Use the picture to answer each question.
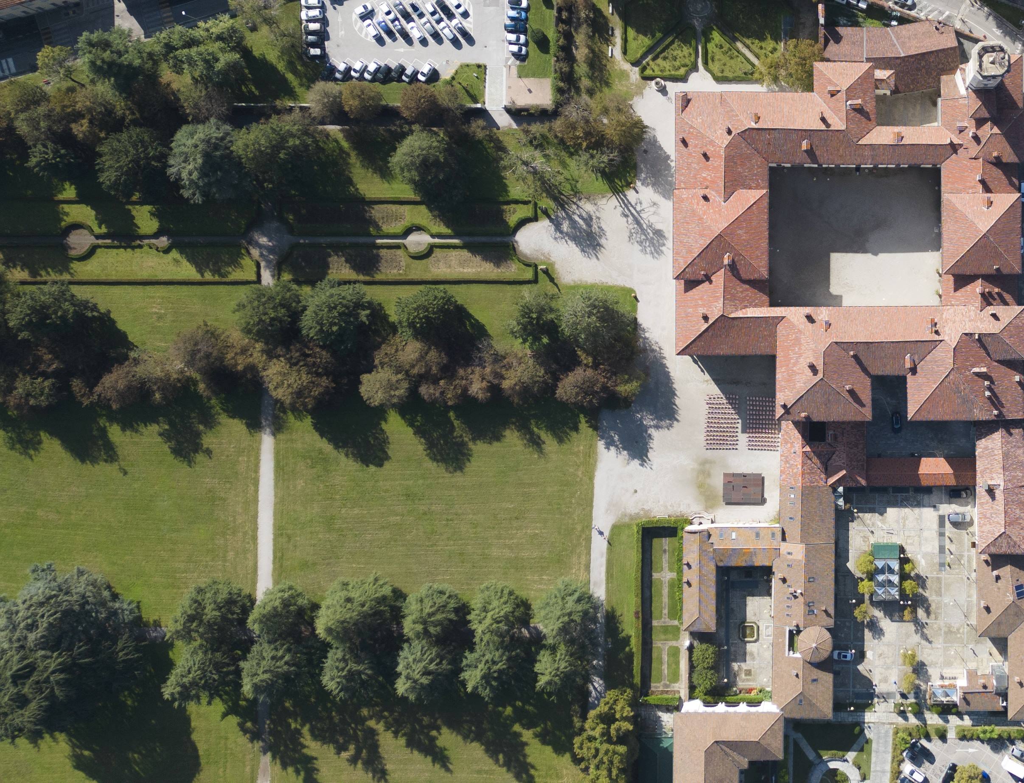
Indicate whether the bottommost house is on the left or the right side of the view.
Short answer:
right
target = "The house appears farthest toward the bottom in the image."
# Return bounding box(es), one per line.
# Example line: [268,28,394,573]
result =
[673,700,784,783]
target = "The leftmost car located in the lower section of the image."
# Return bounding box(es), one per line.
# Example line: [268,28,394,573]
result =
[832,650,856,662]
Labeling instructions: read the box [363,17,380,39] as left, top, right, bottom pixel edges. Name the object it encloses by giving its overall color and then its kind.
white car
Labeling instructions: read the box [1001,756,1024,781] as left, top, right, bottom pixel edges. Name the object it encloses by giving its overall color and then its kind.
white vehicle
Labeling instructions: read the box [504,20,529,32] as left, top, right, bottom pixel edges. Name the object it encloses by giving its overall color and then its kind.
blue vehicle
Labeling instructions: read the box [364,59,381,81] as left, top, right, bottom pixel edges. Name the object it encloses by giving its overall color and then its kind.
white car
